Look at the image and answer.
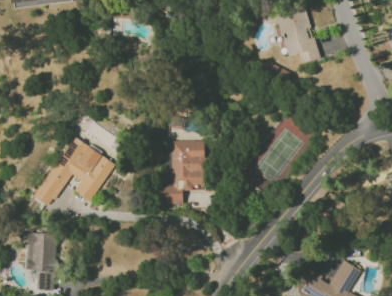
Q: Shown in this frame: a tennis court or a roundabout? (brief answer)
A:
tennis court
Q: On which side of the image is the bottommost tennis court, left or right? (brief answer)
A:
right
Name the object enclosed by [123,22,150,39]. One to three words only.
swimming pool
